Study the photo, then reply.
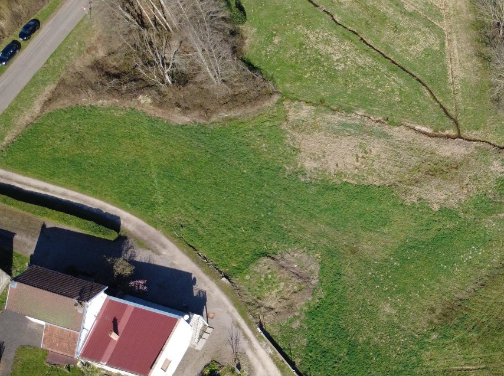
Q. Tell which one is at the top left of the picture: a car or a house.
car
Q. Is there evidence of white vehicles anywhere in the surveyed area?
No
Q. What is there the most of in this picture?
grass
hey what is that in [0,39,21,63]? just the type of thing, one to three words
car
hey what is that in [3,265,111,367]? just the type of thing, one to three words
house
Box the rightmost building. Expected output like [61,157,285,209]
[77,294,192,376]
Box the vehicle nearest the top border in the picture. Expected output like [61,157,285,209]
[13,17,41,39]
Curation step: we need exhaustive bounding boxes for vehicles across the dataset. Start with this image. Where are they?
[0,39,21,63]
[13,17,41,39]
